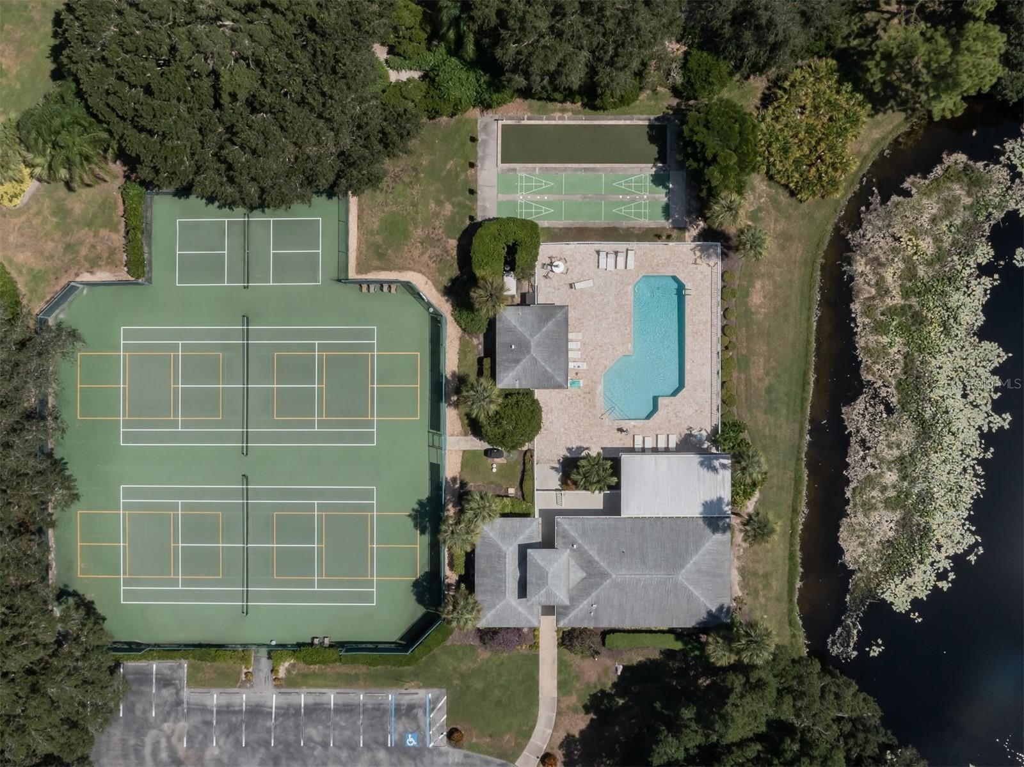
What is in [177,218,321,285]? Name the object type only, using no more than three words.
sports court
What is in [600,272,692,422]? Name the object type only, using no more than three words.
swimming pool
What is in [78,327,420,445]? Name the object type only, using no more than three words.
tennis court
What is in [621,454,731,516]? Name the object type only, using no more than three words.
building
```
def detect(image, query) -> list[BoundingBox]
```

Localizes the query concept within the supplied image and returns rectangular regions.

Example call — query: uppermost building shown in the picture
[496,304,569,390]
